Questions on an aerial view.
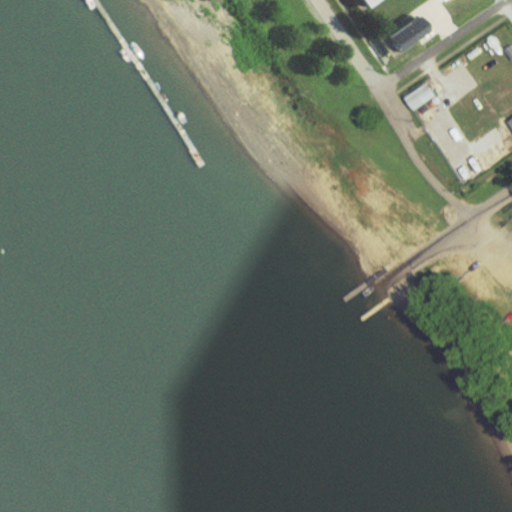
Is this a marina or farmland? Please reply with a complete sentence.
This looks like a marina.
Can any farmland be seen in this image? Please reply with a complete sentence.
No, no farmland is visible.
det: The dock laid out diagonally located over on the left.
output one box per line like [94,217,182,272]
[94,0,204,164]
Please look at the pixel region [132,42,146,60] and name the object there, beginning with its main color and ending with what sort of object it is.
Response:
white boat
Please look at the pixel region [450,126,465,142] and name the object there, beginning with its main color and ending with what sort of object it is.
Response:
white vehicle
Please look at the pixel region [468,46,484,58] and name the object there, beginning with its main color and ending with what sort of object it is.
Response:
white vehicle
